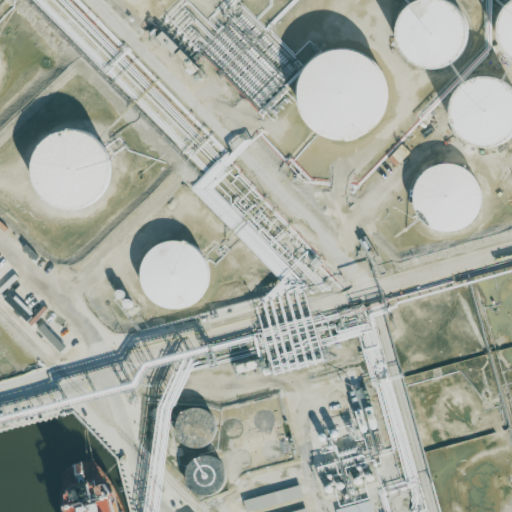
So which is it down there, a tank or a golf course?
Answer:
tank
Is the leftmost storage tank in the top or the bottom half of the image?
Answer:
top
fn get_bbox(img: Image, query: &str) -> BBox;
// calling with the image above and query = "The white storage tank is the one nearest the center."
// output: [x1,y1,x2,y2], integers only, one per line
[140,240,212,311]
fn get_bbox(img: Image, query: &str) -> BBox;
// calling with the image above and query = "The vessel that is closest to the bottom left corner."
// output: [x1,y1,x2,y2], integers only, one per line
[60,460,124,512]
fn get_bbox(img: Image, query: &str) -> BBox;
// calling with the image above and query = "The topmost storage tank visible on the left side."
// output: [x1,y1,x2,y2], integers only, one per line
[30,129,114,212]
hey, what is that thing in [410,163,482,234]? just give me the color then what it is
white storage tank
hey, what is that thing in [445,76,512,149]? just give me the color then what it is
white storage tank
